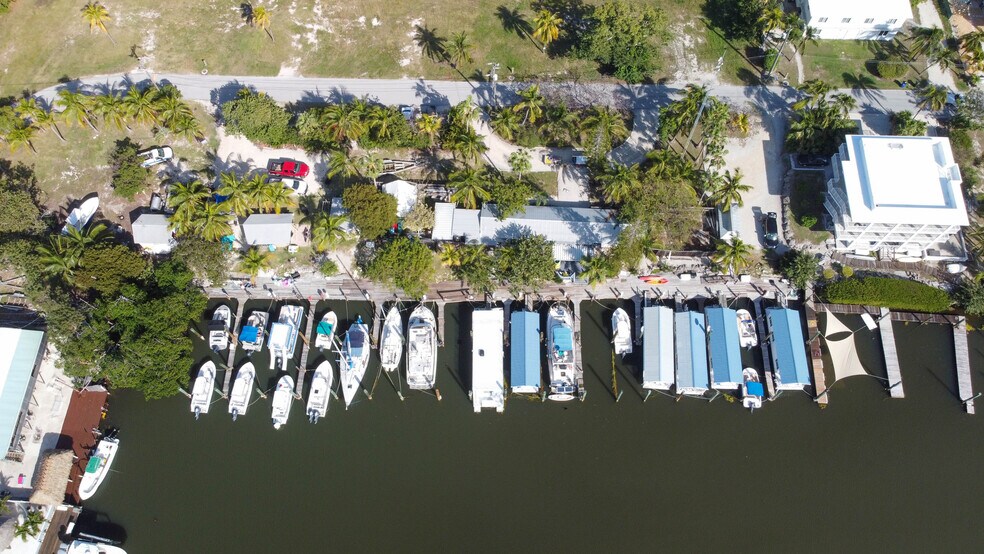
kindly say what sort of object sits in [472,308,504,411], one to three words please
boat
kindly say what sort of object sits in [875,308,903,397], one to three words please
pier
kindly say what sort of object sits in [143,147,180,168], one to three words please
truck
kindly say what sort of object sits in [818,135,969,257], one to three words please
house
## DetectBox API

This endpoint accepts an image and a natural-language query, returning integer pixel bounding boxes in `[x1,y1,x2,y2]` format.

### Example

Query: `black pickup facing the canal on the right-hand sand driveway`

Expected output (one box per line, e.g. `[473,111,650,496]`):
[758,211,782,252]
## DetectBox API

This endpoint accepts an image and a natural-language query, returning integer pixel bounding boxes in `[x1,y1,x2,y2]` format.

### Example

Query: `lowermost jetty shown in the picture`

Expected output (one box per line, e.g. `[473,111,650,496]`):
[41,507,83,554]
